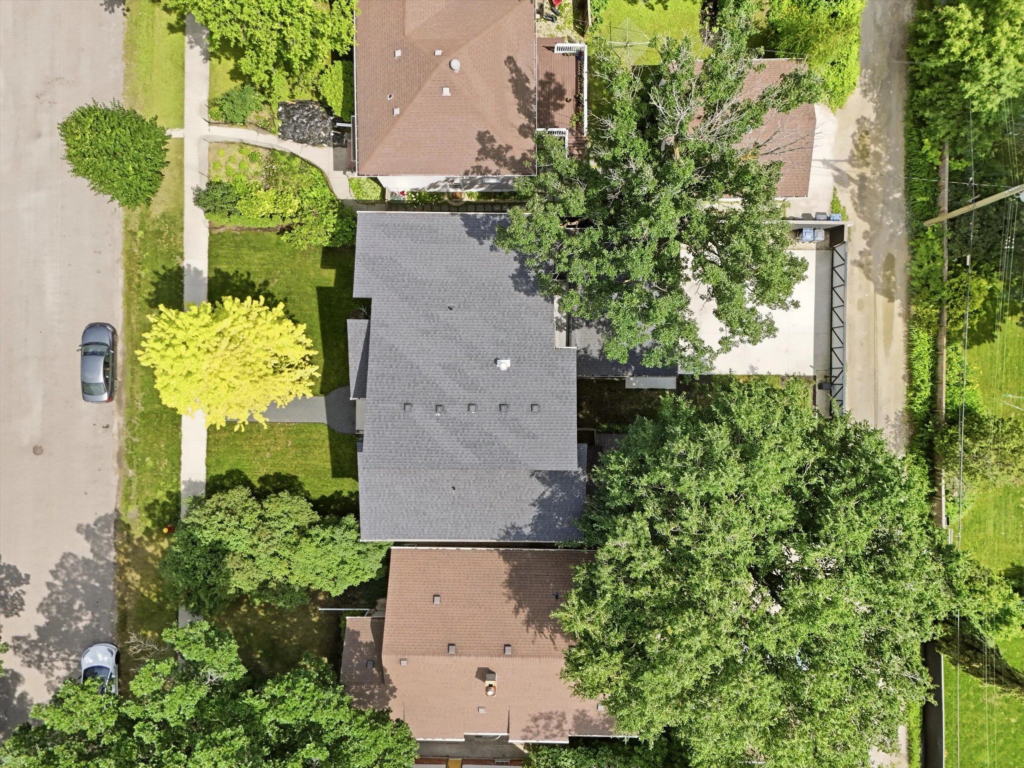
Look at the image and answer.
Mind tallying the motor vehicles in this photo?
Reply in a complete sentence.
My tally gives 2 motor vehicles in this view.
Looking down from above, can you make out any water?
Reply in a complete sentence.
No, there's no water in this view.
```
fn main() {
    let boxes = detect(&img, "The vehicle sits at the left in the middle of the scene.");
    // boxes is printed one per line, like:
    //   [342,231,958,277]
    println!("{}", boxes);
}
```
[76,323,120,402]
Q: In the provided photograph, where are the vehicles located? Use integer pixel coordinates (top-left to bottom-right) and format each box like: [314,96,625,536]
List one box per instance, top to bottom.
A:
[76,323,120,402]
[76,647,121,712]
